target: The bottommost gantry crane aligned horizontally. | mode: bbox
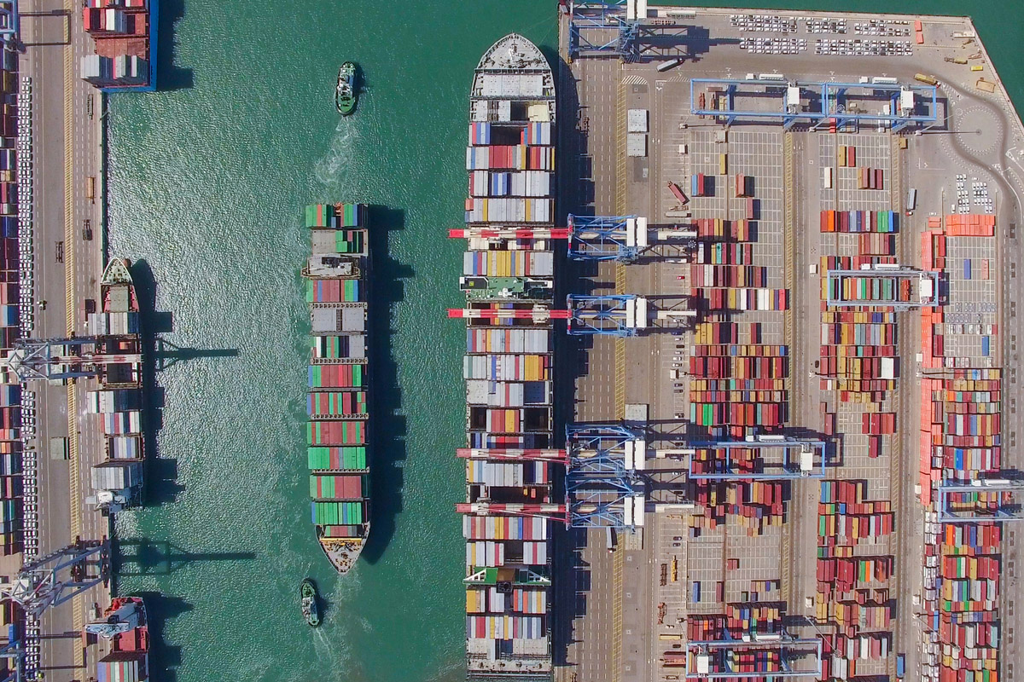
[684,632,822,680]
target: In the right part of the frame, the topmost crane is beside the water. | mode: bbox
[560,0,708,74]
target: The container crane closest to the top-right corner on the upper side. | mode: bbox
[824,77,937,136]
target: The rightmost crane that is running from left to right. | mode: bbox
[926,476,1024,522]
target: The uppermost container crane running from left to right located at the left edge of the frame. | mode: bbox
[0,334,145,384]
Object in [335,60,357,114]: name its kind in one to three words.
boat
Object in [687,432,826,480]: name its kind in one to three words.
container crane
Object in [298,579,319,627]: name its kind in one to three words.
boat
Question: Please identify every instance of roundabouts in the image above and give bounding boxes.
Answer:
[957,109,1003,154]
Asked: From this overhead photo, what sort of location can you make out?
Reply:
port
